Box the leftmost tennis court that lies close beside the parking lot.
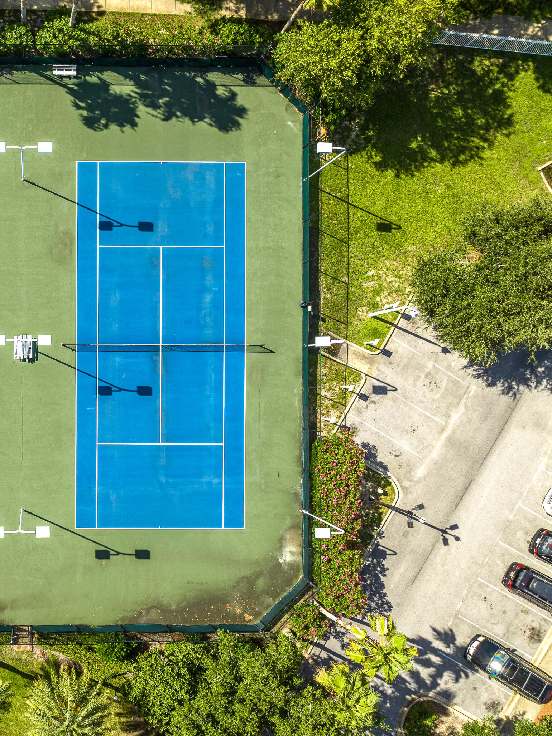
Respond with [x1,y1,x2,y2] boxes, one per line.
[76,160,247,529]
